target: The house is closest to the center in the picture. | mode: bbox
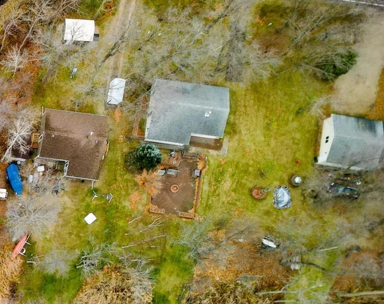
[132,78,230,159]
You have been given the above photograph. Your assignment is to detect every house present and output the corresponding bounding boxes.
[31,106,108,189]
[132,78,230,159]
[314,113,384,172]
